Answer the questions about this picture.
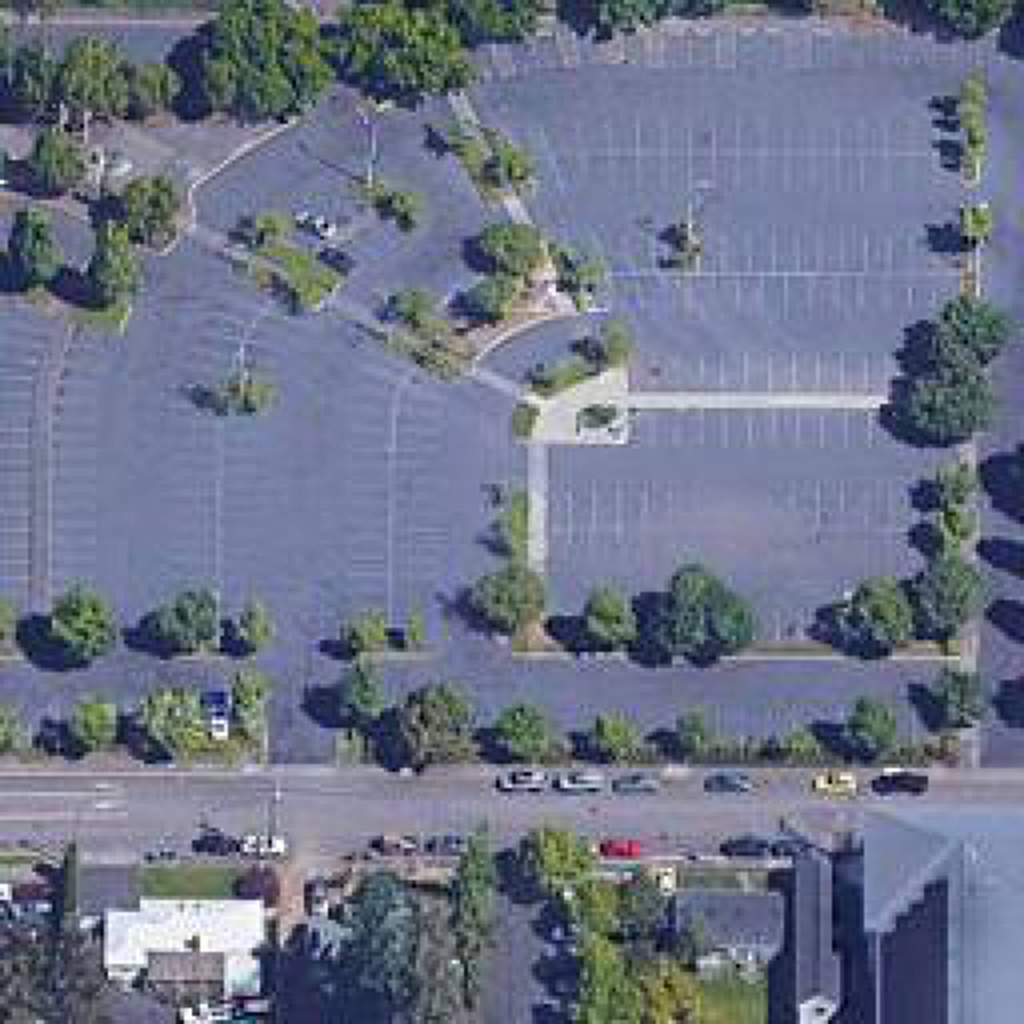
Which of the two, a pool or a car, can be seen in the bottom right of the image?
car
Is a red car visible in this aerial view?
Yes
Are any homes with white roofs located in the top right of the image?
No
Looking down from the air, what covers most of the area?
paved ground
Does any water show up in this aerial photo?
No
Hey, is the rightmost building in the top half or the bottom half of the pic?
bottom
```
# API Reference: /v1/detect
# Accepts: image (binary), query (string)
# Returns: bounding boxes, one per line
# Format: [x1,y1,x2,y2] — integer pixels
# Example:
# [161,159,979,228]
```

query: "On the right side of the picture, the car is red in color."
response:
[598,837,642,859]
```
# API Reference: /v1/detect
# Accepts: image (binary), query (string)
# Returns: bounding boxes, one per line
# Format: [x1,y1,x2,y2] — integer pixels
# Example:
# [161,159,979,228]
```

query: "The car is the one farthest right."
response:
[874,769,925,794]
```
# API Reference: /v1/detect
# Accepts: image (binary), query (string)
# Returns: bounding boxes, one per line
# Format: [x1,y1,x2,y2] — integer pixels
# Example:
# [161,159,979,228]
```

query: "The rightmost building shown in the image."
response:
[864,806,1024,1024]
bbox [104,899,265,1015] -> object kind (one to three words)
house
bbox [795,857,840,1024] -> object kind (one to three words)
building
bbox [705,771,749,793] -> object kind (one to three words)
car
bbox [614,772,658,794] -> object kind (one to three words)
car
